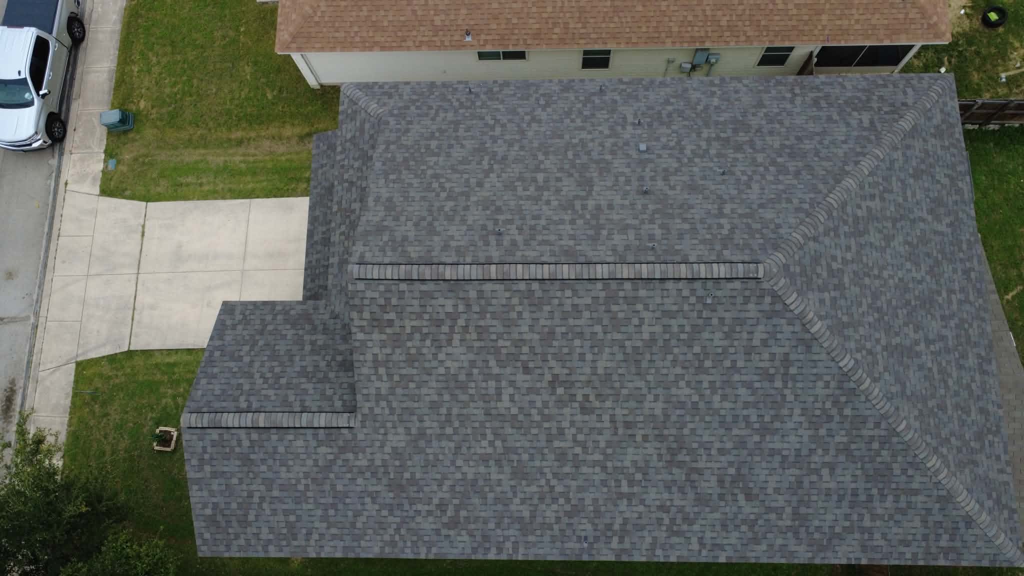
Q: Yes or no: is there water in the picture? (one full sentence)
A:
No, no water is visible.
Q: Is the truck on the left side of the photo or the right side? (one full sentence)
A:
You can find the truck on the left side of the picture.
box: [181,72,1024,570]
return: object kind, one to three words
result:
house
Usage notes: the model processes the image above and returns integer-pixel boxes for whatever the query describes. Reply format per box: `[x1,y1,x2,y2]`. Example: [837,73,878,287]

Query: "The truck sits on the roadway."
[0,0,83,157]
